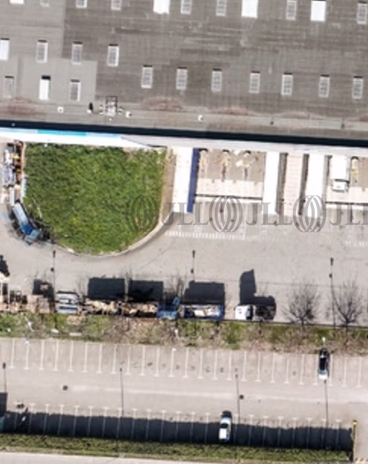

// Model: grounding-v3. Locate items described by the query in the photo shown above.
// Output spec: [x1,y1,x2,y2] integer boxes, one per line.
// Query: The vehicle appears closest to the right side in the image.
[331,158,351,195]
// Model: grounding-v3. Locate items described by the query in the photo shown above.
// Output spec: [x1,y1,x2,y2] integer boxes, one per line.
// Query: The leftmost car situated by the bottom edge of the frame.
[219,416,233,445]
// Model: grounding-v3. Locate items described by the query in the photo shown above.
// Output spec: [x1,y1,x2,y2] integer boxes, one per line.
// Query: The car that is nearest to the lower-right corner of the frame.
[316,351,330,379]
